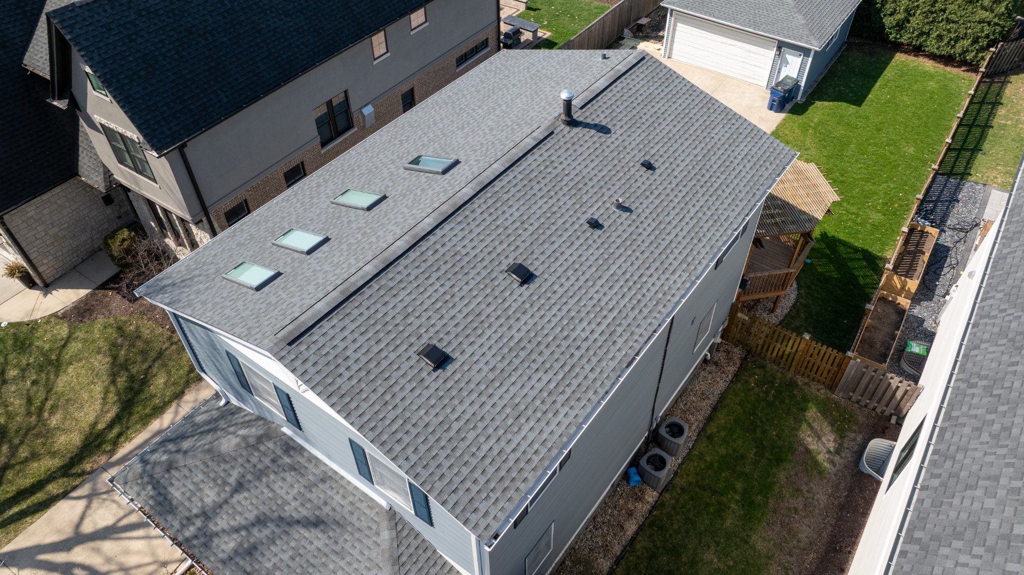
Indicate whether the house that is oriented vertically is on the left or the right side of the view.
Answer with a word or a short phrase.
right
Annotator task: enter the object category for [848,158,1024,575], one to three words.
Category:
house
